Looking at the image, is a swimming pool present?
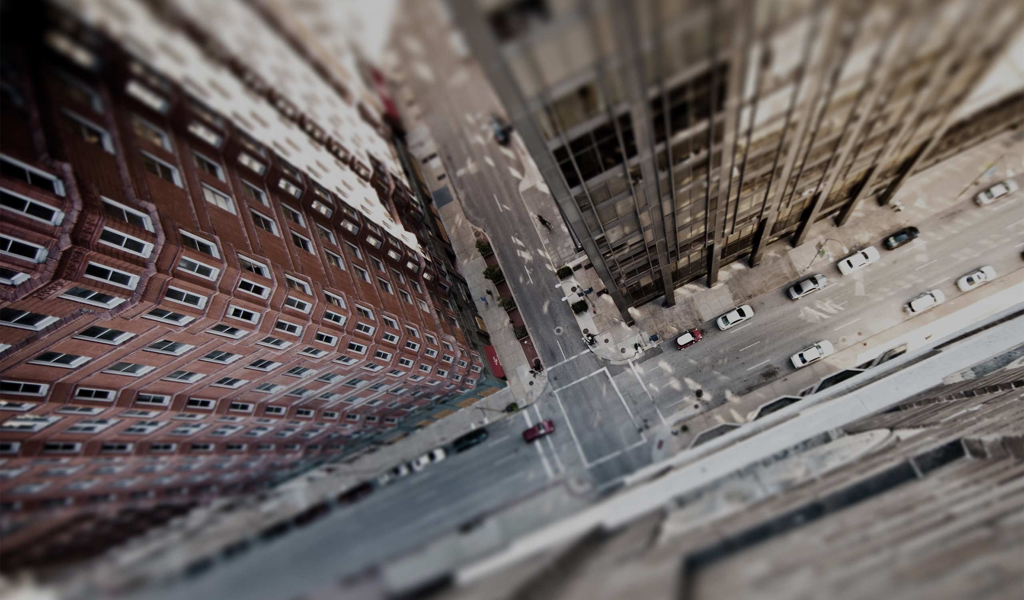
No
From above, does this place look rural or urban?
urban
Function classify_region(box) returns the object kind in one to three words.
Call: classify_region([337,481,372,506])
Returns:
car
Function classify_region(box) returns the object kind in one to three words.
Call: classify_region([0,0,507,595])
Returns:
building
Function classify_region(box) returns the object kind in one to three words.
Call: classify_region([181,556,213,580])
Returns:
car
